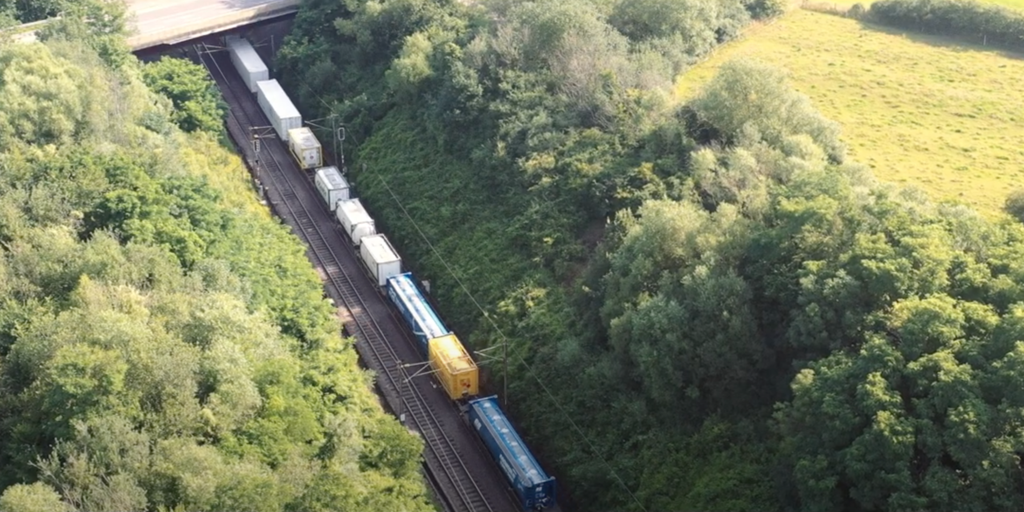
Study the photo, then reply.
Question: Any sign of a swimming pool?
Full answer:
No, I can't see a single swimming pool in this photo.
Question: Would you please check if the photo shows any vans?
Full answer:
No, I can see no van in this picture.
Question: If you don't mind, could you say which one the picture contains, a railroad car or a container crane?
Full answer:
It is a railroad car that can be seen here.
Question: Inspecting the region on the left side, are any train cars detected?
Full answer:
Yes, I can see a train car on the left side.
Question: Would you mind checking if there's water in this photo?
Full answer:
No, the picture contains no water.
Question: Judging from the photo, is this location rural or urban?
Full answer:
The land in this view is best described as rural.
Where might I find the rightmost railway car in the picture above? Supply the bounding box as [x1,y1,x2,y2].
[461,407,560,512]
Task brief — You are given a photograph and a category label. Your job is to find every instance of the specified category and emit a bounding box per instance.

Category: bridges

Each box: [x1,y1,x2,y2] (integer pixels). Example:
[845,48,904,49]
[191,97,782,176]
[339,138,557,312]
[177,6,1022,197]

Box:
[105,0,322,63]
